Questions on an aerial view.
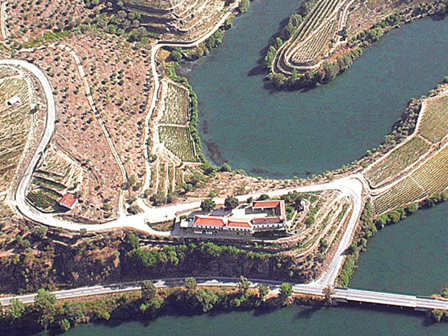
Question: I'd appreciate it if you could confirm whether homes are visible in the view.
Yes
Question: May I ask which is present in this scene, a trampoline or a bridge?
bridge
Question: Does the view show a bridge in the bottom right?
Yes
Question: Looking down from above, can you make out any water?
Yes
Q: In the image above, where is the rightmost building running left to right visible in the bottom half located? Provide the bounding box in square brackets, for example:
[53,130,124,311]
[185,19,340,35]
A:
[193,199,286,237]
